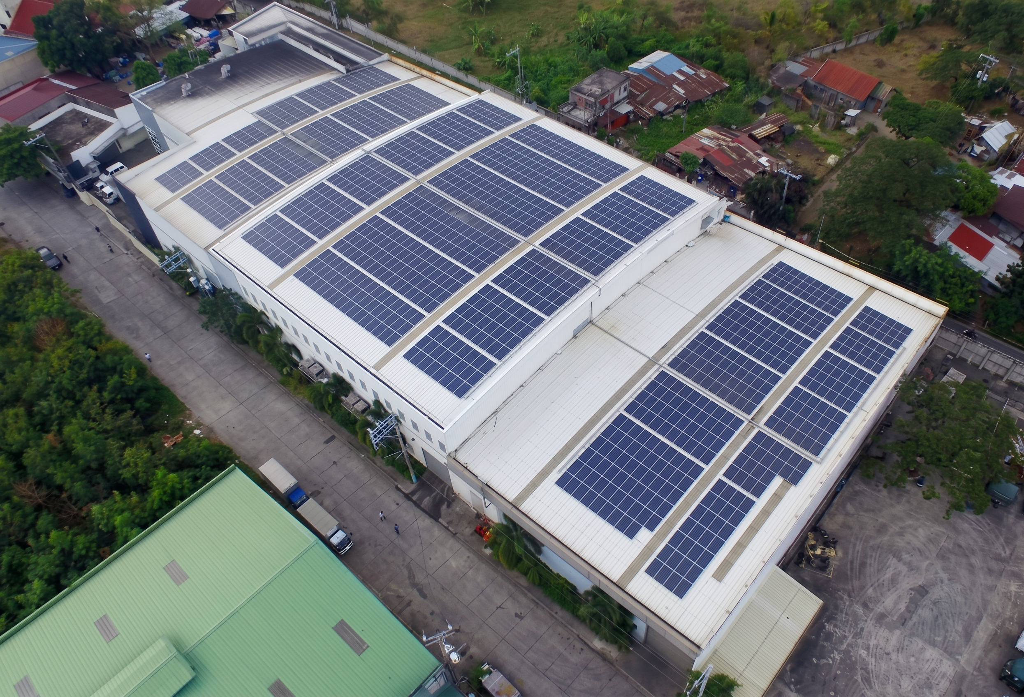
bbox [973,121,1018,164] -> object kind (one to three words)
shed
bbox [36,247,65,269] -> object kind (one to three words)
car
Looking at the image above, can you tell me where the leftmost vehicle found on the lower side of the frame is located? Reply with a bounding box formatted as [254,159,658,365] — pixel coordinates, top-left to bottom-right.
[258,458,312,514]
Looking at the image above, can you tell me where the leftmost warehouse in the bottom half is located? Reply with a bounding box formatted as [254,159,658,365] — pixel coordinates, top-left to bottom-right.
[0,462,439,697]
